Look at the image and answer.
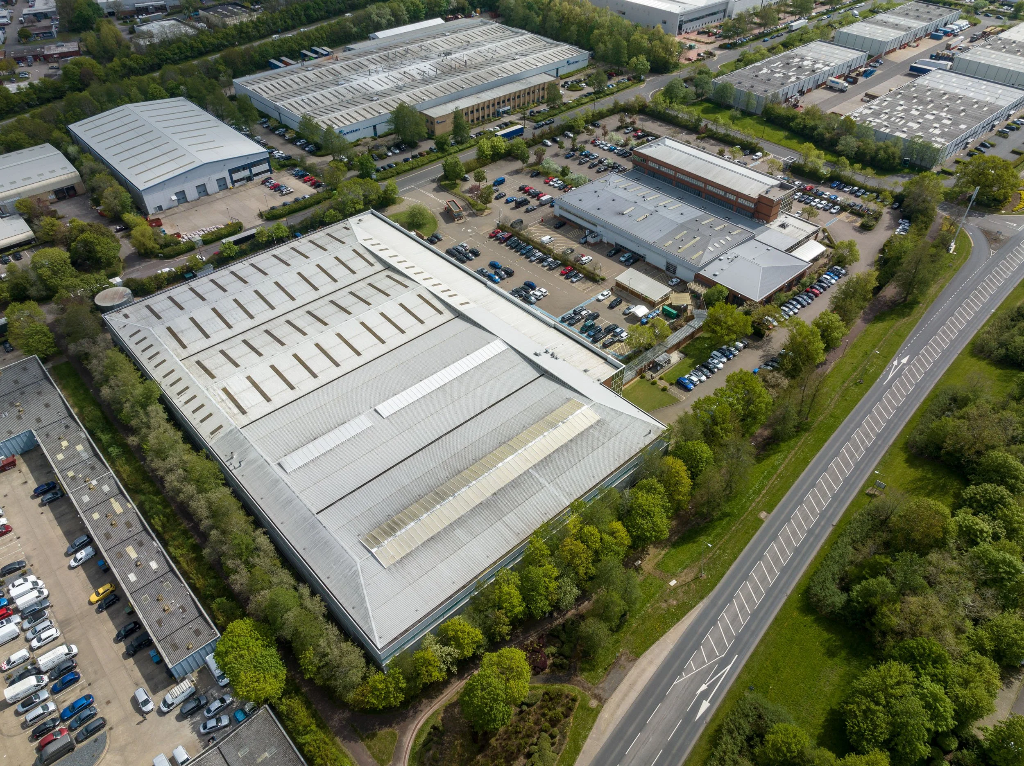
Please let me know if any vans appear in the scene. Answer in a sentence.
Yes, the frame does contain a van.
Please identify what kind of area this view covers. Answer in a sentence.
This looks like an industrial area.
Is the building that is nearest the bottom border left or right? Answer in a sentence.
The building that is nearest the bottom border is on the left side of the image.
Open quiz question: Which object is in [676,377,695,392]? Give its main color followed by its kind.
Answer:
blue car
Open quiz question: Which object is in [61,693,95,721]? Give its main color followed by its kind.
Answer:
blue car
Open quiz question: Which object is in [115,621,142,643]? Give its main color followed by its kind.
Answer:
black car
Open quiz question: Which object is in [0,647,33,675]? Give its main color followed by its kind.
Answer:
white van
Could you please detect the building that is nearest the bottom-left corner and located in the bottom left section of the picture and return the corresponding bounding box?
[186,706,306,766]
